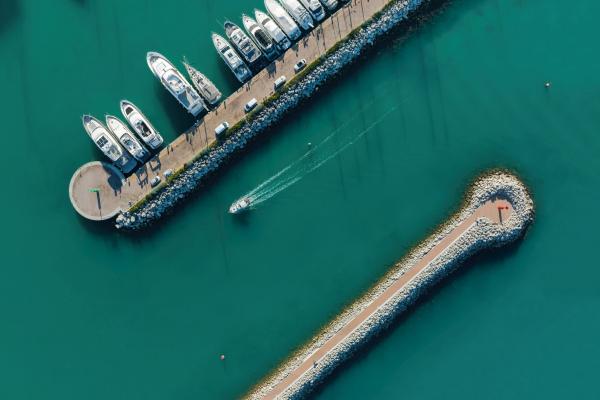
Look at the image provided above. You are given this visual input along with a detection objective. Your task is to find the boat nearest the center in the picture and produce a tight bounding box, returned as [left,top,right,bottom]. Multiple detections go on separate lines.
[230,198,251,212]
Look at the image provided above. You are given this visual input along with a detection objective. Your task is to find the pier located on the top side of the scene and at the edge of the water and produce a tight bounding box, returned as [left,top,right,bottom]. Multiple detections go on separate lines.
[69,0,441,241]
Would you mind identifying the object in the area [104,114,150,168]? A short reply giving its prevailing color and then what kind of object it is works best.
white boat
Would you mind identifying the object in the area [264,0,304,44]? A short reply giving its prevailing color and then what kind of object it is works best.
white boat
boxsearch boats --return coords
[295,0,327,25]
[243,15,280,64]
[104,114,150,168]
[212,34,250,86]
[180,57,222,106]
[146,52,210,121]
[318,0,341,14]
[264,0,304,44]
[254,9,293,52]
[119,101,166,152]
[230,198,251,212]
[225,21,263,64]
[81,114,133,170]
[278,0,317,35]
